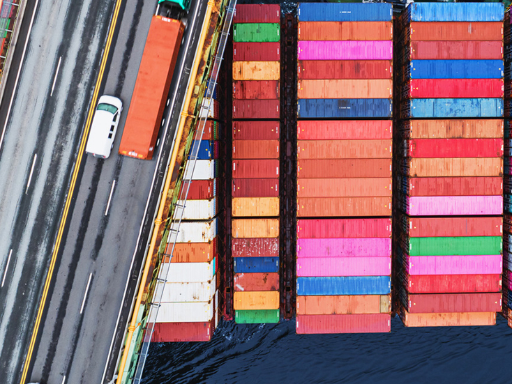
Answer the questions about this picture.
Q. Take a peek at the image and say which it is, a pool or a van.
van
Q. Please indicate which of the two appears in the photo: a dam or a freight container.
freight container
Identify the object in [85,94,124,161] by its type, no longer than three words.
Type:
van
